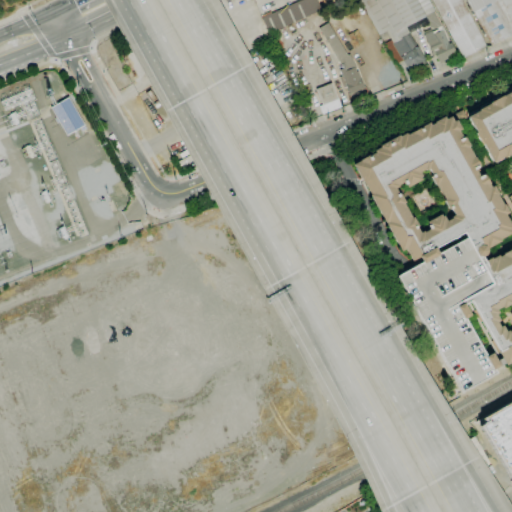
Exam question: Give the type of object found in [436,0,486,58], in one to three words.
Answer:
building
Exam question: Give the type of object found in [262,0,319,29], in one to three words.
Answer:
shed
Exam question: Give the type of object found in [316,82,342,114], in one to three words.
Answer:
building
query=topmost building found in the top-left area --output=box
[52,96,84,140]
